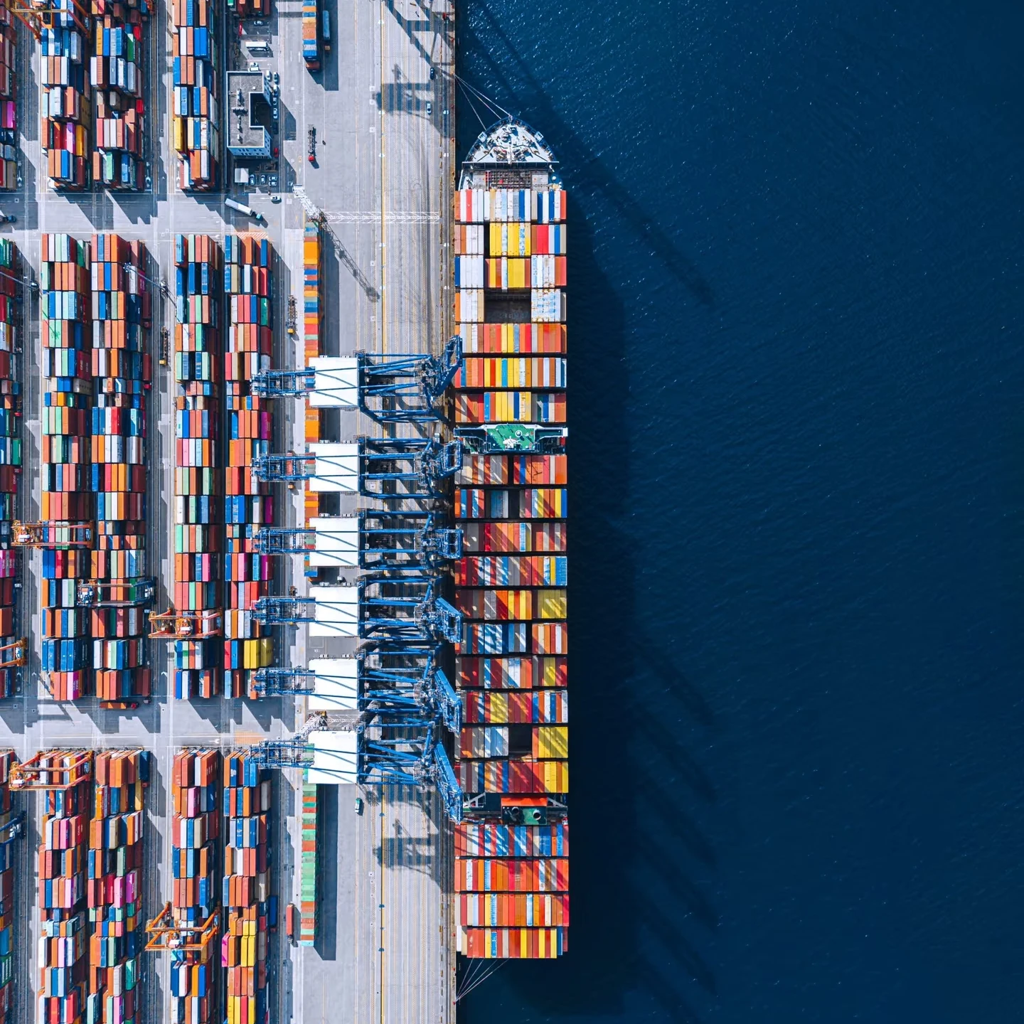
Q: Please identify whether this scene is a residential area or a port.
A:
port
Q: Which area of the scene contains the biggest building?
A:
top left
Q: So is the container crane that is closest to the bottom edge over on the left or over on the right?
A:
left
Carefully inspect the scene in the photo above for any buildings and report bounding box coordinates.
[226,71,271,157]
[232,167,248,183]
